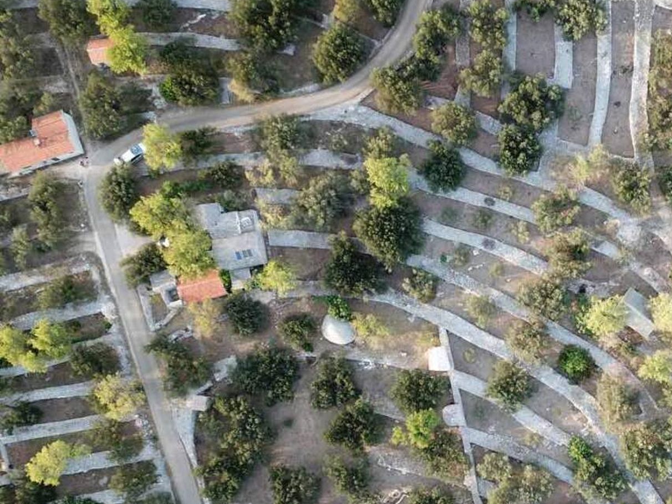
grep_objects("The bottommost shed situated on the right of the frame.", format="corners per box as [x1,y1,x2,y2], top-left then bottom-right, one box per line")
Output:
[428,348,451,370]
